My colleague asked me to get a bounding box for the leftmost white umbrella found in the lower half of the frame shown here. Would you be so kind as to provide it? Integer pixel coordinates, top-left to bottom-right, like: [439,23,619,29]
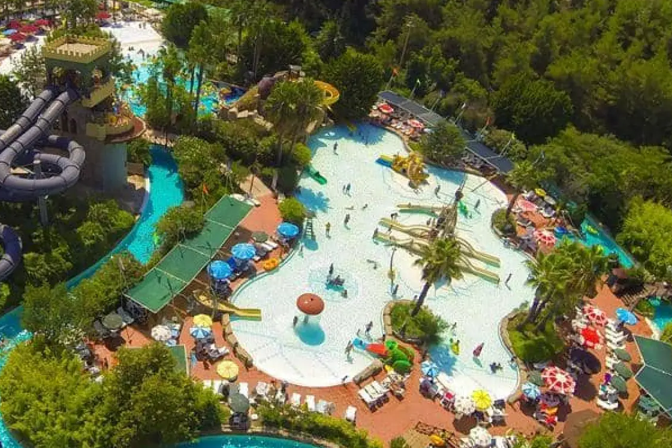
[152,328,170,341]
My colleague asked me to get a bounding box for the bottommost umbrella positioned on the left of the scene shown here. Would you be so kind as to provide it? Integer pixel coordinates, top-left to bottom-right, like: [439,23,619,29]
[226,393,253,427]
